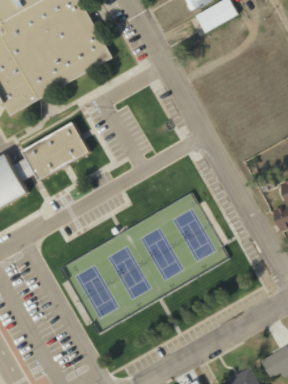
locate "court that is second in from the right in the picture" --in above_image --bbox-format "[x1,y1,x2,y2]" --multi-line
[141,228,182,280]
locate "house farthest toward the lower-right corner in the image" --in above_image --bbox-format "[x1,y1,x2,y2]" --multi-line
[262,348,288,378]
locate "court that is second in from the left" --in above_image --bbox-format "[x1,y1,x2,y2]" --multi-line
[109,246,151,300]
